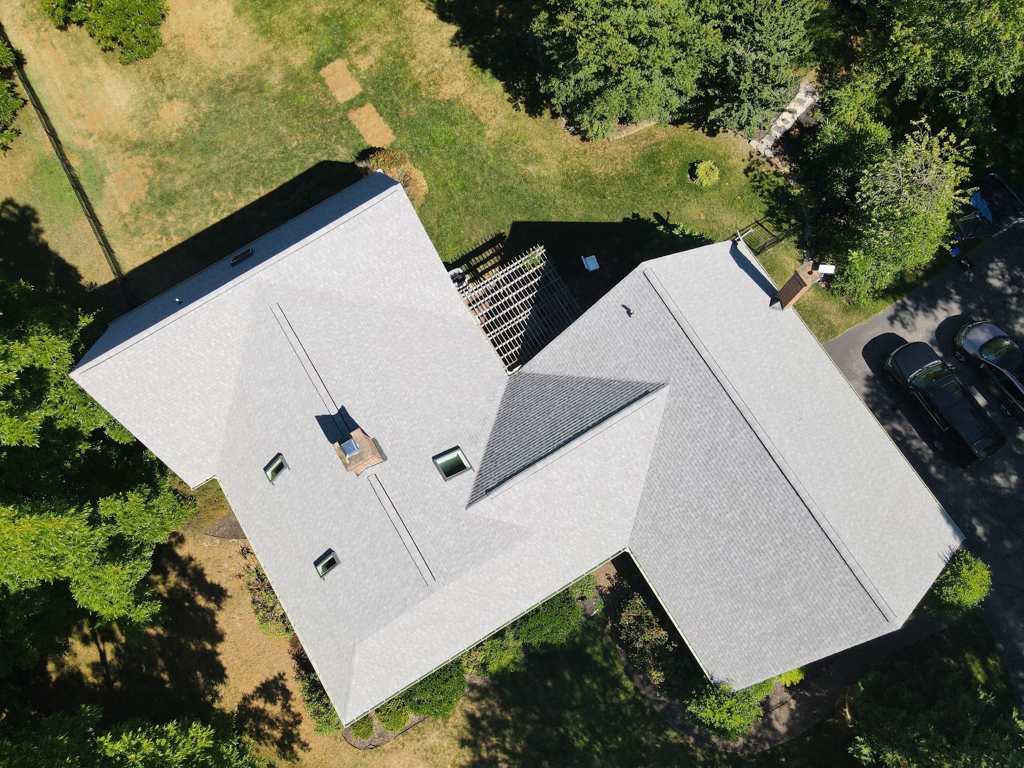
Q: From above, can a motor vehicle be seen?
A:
Yes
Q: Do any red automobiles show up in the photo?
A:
No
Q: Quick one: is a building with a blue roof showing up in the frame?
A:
No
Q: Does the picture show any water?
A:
No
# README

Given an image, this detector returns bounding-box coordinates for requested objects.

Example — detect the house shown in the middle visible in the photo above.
[69,167,968,732]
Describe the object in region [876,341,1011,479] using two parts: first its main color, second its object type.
black car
